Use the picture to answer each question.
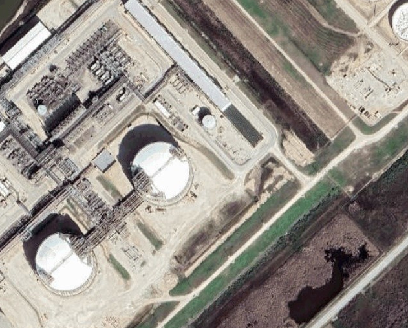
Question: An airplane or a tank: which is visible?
tank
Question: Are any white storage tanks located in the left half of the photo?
Yes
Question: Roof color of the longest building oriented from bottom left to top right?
white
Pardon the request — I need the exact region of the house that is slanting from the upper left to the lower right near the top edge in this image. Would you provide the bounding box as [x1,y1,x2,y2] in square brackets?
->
[124,0,228,110]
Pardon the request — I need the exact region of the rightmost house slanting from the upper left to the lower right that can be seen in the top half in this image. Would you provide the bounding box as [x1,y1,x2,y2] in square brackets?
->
[223,104,263,148]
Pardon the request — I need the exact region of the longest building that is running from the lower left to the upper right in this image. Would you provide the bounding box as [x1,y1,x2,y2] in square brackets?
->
[1,21,52,72]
